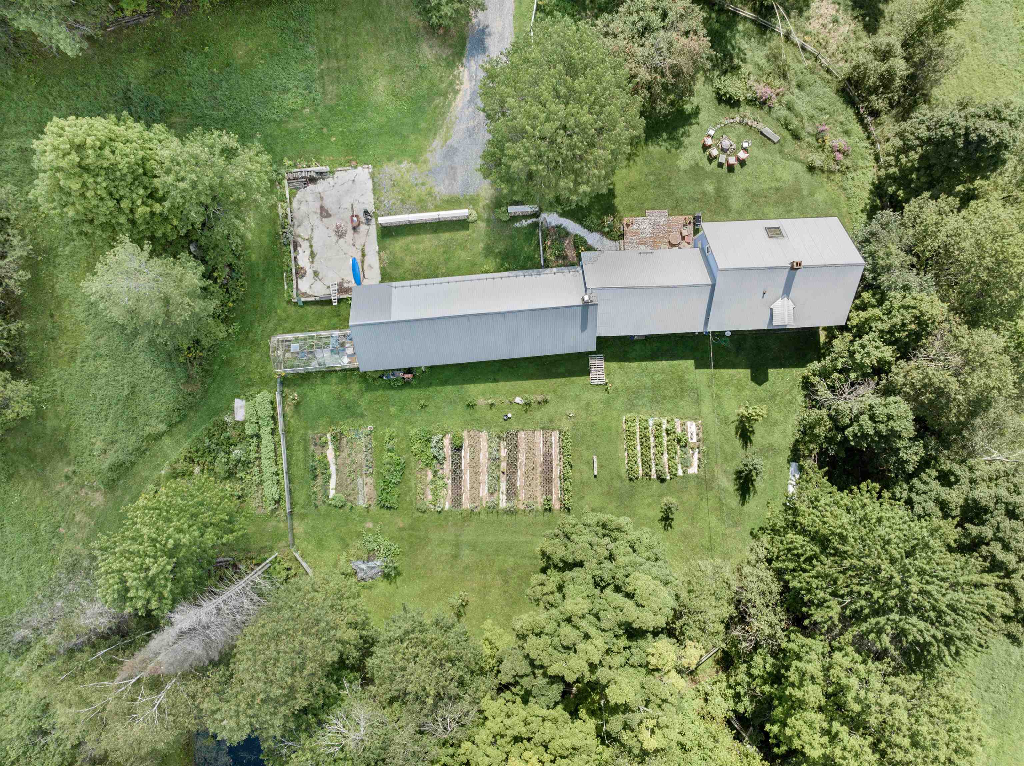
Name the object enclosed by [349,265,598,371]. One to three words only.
barn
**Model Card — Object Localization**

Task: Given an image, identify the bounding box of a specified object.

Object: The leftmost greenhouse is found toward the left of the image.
[271,330,359,372]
